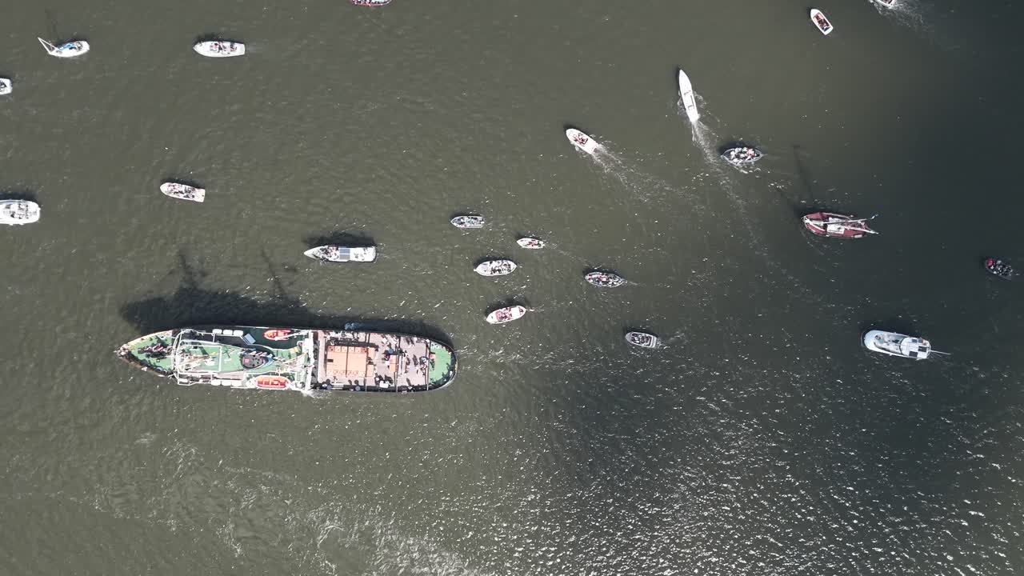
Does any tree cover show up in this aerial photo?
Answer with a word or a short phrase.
No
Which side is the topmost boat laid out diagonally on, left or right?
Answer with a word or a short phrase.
right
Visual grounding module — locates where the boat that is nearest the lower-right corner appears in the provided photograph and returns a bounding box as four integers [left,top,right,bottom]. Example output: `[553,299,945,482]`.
[865,332,951,361]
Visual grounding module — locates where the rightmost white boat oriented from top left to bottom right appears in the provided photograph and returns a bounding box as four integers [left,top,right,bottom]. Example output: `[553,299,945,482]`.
[811,7,835,38]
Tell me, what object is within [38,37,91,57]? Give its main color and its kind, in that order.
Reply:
white boat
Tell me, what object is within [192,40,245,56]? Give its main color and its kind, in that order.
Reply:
white boat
